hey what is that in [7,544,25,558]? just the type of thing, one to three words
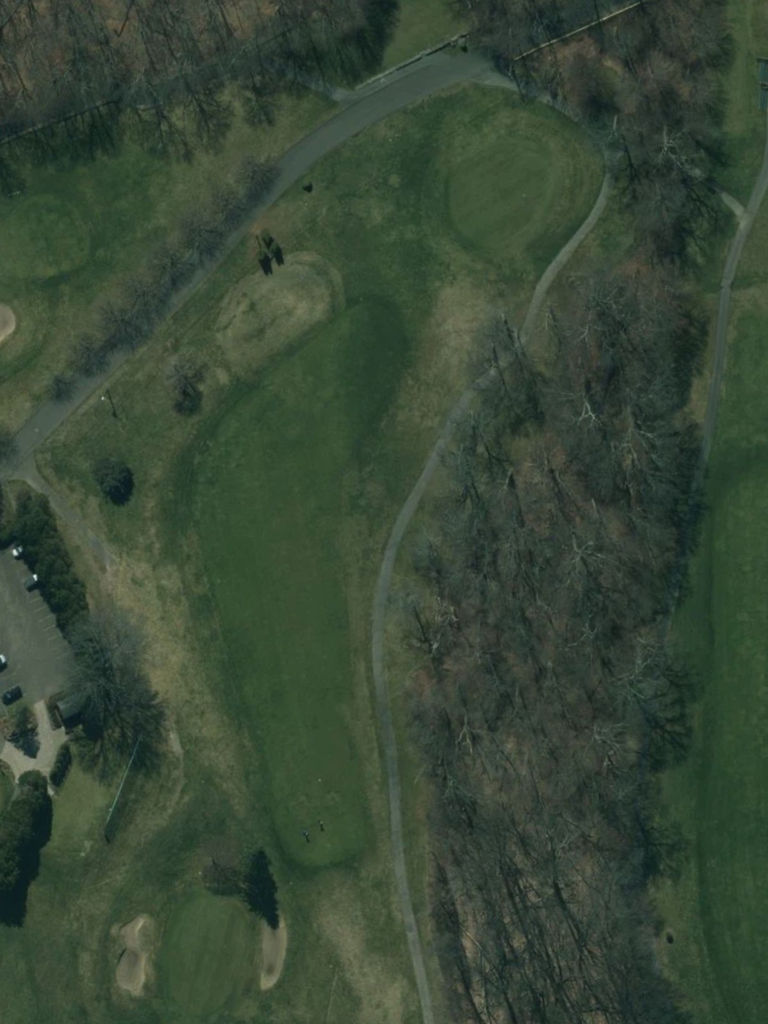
car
